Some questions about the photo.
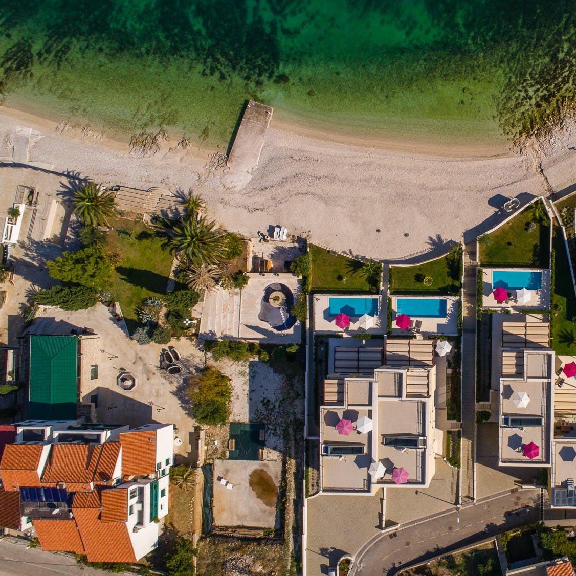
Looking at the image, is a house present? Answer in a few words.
Yes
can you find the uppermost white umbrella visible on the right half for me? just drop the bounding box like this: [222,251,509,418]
[516,287,530,305]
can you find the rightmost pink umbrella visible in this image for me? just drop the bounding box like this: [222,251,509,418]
[563,360,576,379]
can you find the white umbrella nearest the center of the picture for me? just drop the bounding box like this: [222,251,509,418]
[358,313,373,329]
